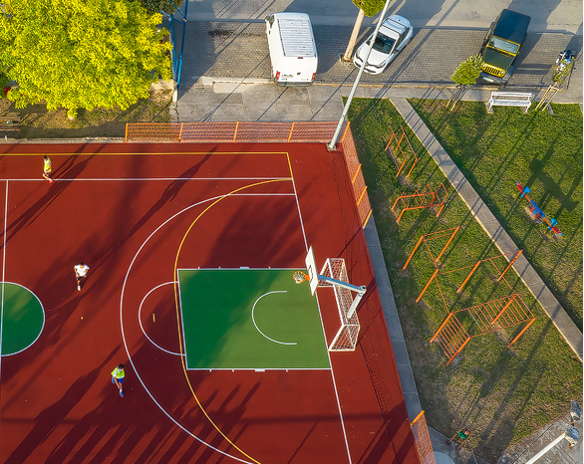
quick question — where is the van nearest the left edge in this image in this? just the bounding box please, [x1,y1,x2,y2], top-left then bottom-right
[269,5,323,83]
